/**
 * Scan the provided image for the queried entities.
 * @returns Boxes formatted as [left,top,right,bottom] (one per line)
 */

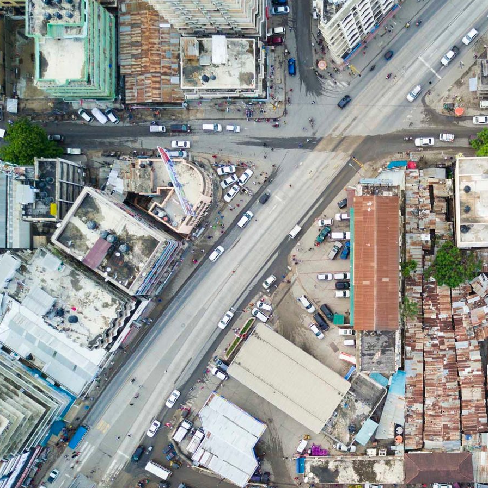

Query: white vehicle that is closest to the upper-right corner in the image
[462,27,479,45]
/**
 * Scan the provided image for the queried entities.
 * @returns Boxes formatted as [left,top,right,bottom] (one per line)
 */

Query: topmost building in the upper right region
[321,0,398,63]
